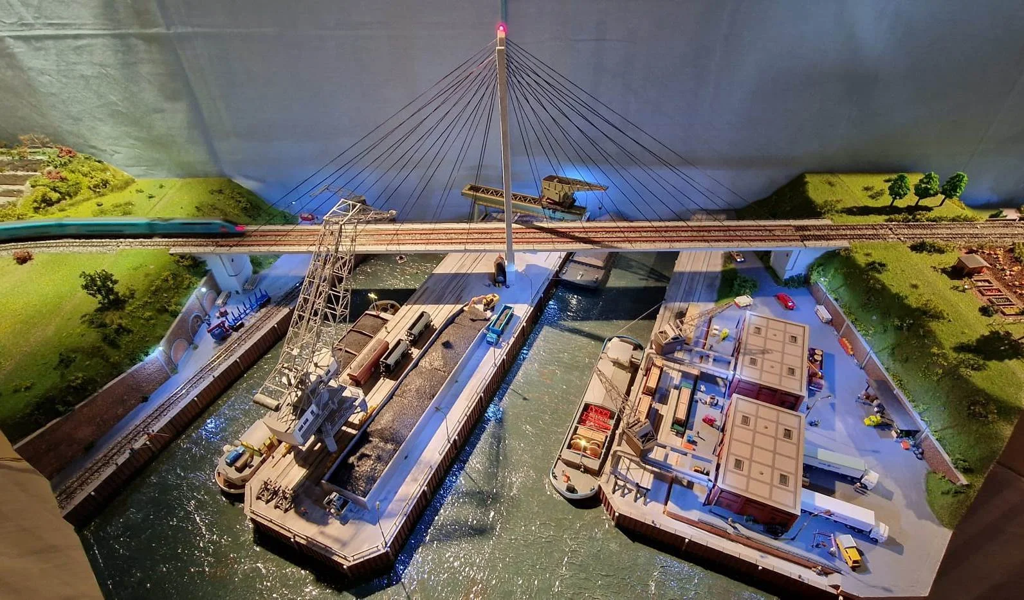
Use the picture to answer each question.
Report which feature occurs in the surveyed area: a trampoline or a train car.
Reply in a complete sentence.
It is a train car that can be seen here.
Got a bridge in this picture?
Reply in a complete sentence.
Yes, you can see a bridge in this photo.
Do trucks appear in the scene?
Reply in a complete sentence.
Yes, a truck appears in the view.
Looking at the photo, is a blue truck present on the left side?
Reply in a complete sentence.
Yes, a blue truck shows up on the left side.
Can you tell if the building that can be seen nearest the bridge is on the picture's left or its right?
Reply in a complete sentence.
The building that can be seen nearest the bridge appears in the right half of the scene.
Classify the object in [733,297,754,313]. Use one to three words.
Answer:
vehicle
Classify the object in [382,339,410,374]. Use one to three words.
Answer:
rail car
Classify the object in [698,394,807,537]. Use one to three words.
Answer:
building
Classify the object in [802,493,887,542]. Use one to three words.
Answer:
truck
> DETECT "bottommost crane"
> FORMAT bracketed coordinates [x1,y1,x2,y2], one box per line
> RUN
[592,366,721,490]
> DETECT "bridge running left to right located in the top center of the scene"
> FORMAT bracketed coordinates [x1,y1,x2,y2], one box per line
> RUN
[172,27,848,287]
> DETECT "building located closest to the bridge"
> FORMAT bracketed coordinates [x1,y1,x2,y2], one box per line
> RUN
[718,309,811,412]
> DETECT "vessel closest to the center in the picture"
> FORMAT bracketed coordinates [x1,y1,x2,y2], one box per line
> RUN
[560,252,612,299]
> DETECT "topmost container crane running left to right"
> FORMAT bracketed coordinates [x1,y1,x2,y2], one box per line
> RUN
[472,177,616,223]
